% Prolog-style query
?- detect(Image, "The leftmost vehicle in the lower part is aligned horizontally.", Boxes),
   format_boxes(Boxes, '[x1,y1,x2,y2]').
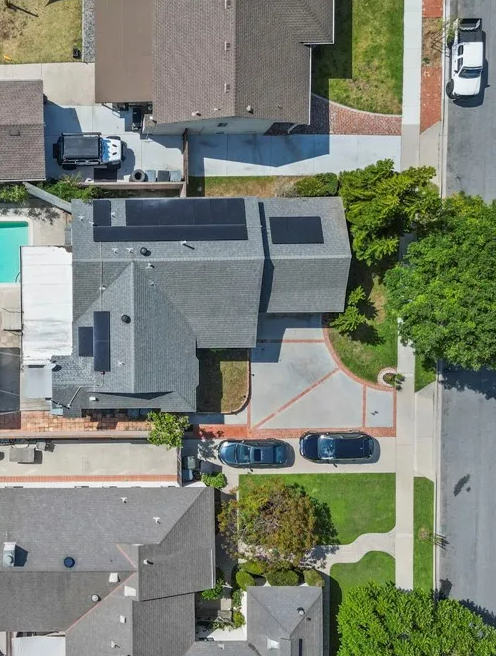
[217,439,290,471]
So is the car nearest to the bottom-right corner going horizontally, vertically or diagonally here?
horizontally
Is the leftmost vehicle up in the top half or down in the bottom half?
top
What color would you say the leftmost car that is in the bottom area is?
blue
